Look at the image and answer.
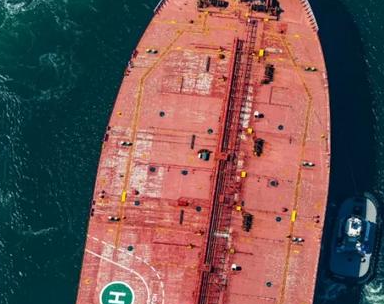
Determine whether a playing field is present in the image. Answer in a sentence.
No, I find no playing field anywhere in the image.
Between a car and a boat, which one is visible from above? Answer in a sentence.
There is a boat in the scene.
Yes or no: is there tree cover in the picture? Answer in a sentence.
No, tree cover can't be seen anywhere here.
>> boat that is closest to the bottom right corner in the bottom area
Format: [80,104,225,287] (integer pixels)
[327,193,382,284]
